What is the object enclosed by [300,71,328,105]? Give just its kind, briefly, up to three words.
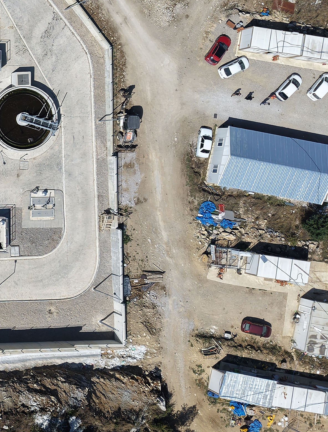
car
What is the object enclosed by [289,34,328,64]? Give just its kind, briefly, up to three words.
building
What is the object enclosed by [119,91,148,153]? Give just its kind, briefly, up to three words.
work vehicle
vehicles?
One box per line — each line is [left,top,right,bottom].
[300,71,328,105]
[193,124,215,160]
[201,30,232,68]
[234,316,275,339]
[212,53,252,81]
[119,91,148,153]
[270,70,306,105]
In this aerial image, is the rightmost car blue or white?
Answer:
white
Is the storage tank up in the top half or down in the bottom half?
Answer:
top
